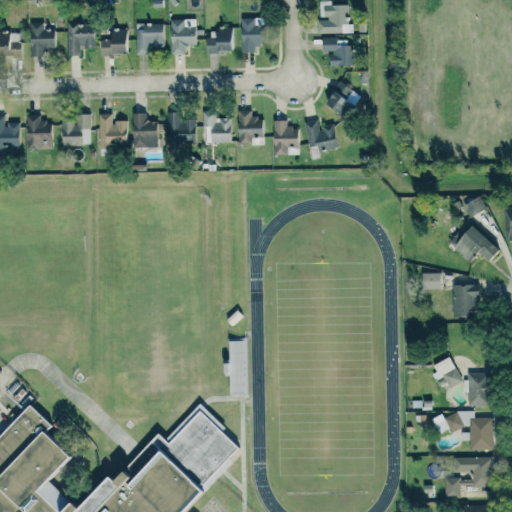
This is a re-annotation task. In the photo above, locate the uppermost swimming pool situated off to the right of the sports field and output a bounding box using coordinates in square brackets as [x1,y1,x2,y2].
[453,386,466,406]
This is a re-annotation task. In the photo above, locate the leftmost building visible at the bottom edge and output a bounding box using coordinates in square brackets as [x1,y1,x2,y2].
[0,406,75,512]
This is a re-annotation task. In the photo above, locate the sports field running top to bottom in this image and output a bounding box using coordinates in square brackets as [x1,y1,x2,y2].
[264,212,387,512]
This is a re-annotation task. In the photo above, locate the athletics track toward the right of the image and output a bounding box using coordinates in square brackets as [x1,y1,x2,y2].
[250,198,400,512]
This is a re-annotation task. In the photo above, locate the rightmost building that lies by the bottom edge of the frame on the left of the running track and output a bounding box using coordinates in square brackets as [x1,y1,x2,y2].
[61,404,242,512]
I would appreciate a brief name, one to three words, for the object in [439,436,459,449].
swimming pool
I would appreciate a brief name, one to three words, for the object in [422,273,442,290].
shed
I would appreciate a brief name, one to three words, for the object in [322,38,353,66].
house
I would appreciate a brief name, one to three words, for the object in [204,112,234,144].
house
